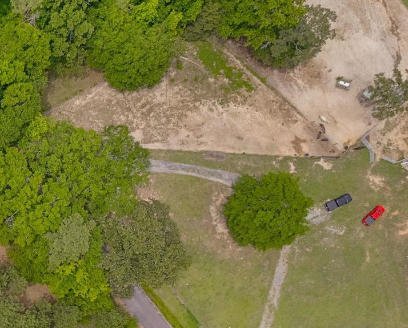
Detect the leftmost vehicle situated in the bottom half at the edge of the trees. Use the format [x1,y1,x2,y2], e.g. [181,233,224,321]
[326,193,354,210]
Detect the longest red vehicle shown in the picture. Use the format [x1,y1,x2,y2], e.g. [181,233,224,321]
[362,203,387,226]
